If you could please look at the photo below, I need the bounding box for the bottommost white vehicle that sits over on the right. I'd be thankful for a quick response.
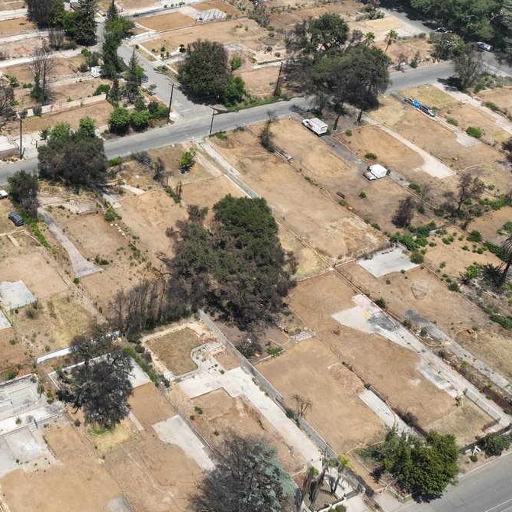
[366,159,391,178]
